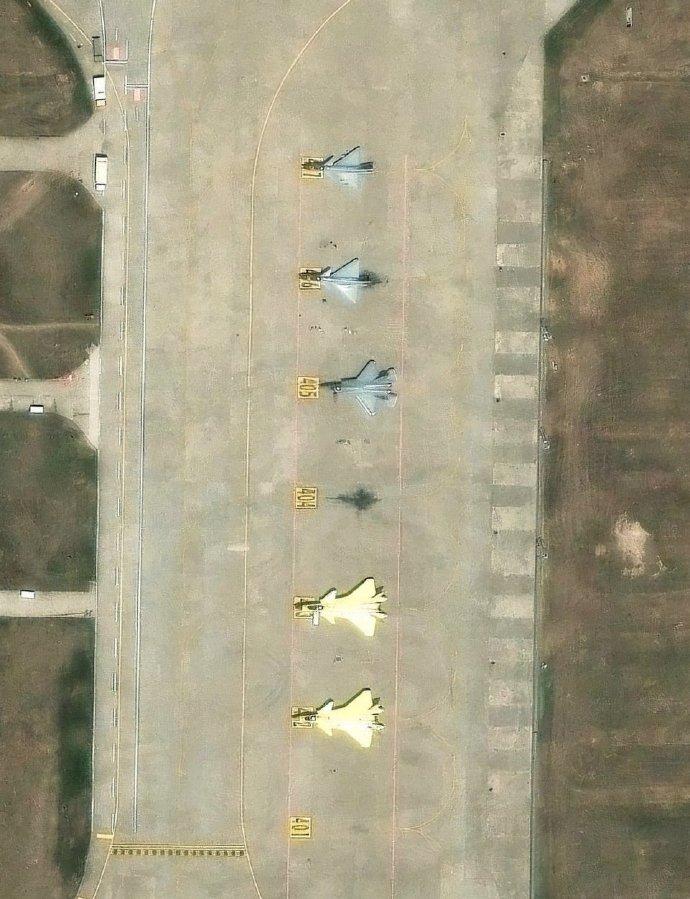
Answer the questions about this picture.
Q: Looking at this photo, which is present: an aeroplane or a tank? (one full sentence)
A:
The image shows an aeroplane.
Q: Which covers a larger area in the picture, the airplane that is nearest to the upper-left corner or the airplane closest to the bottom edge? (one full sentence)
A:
Of the two, the airplane closest to the bottom edge is bigger, while the airplane that is nearest to the upper-left corner is smaller.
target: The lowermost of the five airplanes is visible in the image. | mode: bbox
[292,689,385,749]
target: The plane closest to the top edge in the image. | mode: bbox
[302,148,375,192]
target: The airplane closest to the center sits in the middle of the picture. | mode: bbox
[322,361,398,416]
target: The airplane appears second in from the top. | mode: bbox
[299,258,372,303]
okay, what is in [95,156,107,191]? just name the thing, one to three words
vehicle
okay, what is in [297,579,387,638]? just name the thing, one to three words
airplane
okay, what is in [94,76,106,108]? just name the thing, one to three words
vehicle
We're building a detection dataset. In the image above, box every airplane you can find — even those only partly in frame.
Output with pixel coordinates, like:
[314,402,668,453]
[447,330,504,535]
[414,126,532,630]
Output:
[322,361,398,416]
[299,258,372,303]
[297,579,387,638]
[292,689,385,749]
[302,148,375,192]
